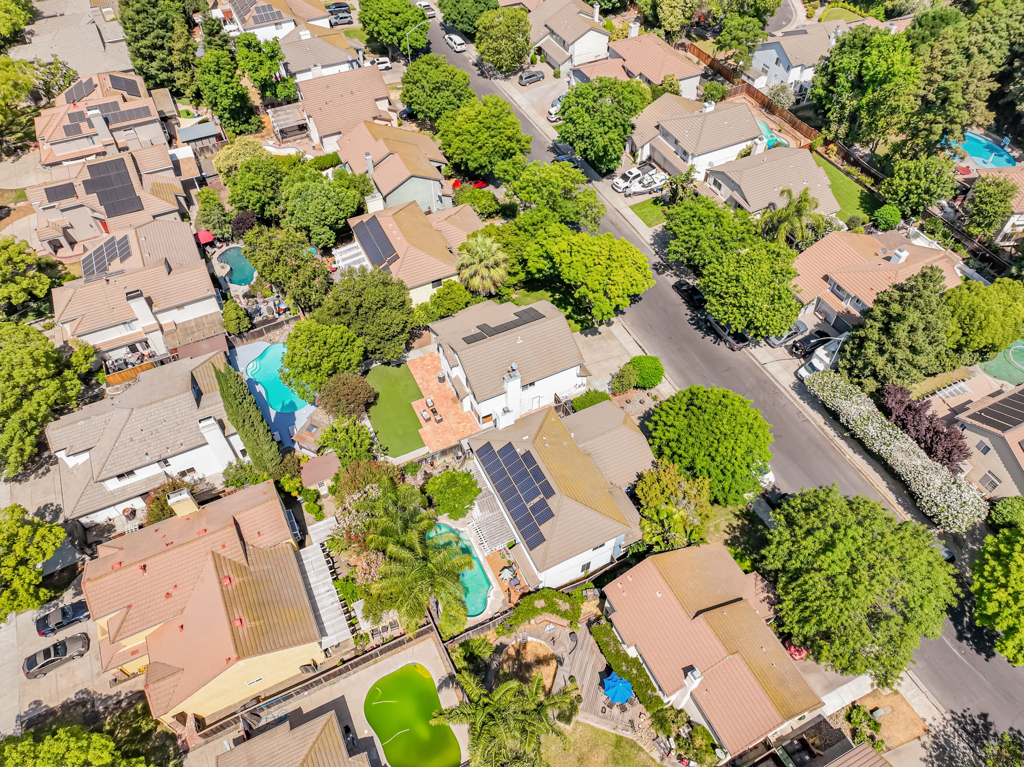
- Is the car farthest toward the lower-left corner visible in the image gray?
Yes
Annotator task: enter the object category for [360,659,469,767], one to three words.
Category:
swimming pool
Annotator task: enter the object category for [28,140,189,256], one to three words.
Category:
house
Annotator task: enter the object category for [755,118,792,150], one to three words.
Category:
swimming pool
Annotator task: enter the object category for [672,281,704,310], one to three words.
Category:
car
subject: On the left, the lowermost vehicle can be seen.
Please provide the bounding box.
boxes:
[22,632,88,679]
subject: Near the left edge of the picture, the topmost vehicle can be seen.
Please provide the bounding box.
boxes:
[33,599,92,636]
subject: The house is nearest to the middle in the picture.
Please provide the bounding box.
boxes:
[428,300,592,427]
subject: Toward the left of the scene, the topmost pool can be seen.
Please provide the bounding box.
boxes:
[265,144,316,170]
